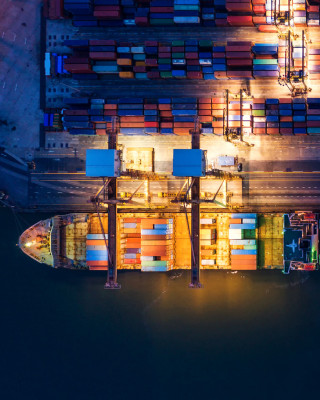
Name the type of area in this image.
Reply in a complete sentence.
It's a port.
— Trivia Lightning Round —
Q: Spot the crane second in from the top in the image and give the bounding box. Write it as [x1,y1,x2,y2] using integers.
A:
[286,29,314,96]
